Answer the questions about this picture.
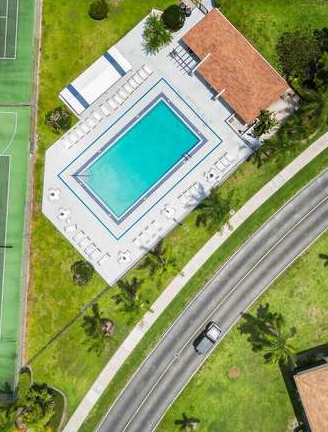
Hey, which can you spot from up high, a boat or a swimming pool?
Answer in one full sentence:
I can see a swimming pool in this picture.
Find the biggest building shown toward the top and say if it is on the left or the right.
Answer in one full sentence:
You can find the biggest building shown toward the top on the right side of the picture.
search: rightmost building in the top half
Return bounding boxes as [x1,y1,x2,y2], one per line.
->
[183,7,290,124]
